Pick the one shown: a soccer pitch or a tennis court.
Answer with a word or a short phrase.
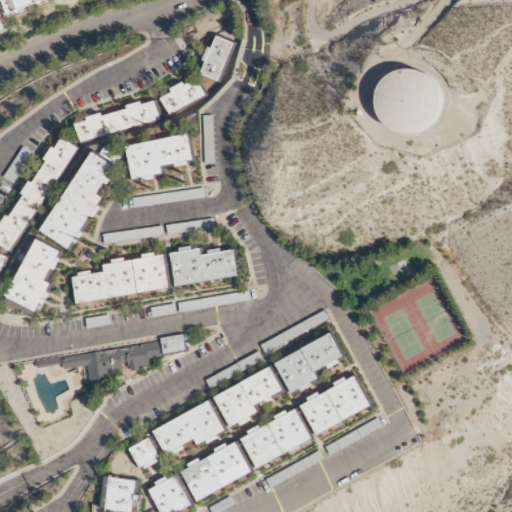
tennis court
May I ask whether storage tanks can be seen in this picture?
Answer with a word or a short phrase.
Yes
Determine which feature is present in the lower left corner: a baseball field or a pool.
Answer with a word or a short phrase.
pool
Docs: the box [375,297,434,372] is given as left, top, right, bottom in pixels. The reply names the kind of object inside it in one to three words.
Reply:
tennis court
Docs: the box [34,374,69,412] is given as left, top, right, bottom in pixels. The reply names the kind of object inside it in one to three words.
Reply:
swimming pool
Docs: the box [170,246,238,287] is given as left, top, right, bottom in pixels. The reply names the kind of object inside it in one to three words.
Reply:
building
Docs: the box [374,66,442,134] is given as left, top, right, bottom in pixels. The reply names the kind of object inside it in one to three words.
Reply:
storage tank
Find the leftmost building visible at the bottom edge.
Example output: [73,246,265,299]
[100,476,139,512]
